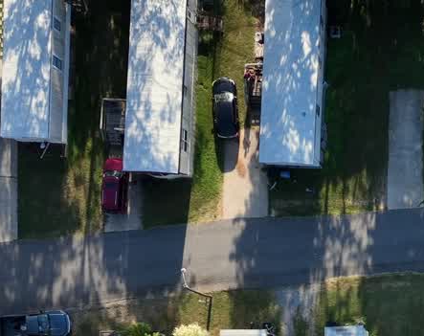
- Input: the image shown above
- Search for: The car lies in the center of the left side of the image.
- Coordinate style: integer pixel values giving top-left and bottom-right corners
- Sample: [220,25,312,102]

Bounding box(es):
[101,158,129,215]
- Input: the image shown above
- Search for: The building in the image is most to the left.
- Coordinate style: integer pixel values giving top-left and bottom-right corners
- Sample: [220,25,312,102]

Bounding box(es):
[0,0,71,163]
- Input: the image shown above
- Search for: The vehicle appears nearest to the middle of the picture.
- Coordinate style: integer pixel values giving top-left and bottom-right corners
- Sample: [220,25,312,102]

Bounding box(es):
[212,80,240,140]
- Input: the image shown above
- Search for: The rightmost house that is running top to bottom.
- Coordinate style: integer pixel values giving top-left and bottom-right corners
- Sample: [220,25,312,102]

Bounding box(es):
[259,0,326,171]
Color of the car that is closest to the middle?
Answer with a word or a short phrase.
black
